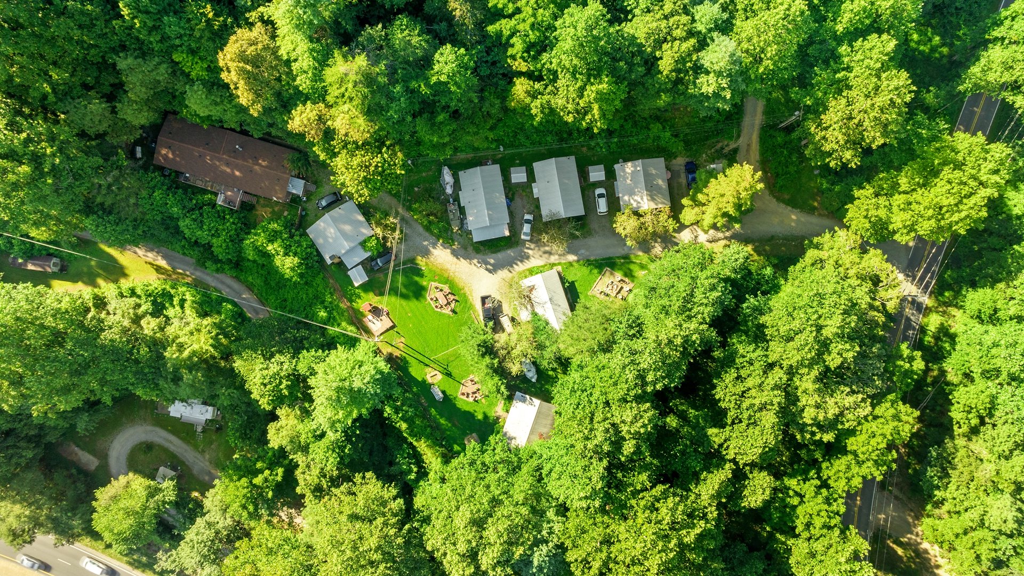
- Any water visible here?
No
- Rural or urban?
rural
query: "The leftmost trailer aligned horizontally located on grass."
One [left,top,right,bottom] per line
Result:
[9,255,72,275]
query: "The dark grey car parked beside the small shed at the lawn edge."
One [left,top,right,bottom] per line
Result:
[371,250,396,271]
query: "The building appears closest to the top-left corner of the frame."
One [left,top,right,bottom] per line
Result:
[153,114,317,210]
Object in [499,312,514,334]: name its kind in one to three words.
vehicle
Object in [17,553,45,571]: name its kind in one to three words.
car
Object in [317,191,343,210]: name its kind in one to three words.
car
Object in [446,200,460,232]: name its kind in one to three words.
boat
